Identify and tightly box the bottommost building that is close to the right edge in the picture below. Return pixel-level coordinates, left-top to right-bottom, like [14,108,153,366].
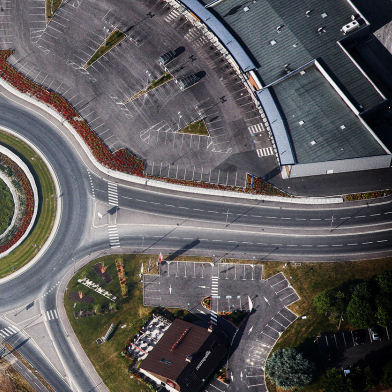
[256,62,392,177]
